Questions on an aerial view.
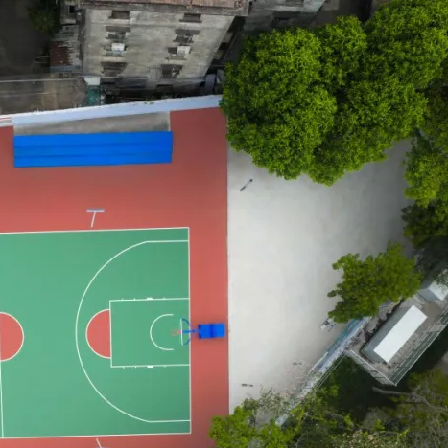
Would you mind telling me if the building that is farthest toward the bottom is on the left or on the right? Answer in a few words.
right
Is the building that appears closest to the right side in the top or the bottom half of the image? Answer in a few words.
bottom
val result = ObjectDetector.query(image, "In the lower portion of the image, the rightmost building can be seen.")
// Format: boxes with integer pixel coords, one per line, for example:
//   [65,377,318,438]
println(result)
[415,281,448,303]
